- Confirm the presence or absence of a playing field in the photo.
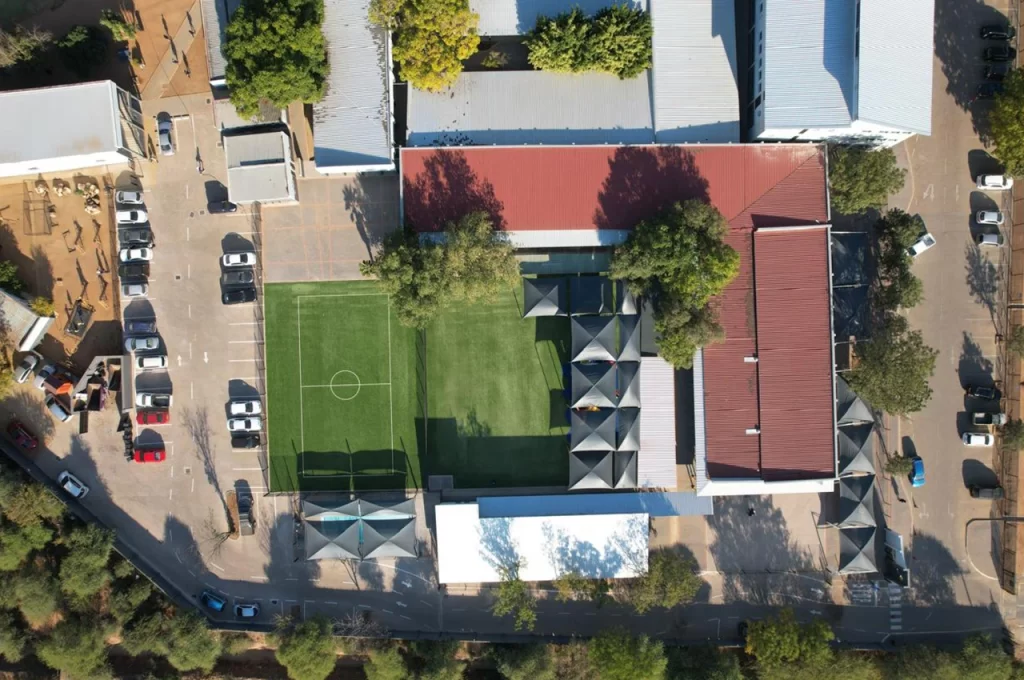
Yes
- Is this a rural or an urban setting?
urban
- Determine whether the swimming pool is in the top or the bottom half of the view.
bottom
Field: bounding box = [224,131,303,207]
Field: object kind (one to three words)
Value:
shed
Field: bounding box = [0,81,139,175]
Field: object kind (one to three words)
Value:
building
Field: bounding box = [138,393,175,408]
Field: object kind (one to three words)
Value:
vehicle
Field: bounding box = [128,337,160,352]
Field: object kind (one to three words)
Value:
car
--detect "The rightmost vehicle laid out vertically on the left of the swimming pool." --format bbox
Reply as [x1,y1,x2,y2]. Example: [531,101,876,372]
[237,495,254,532]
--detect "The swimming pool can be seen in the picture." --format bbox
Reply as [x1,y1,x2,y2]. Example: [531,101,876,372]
[300,491,427,560]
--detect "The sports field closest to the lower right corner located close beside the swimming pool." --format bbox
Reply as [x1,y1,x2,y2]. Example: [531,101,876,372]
[417,273,642,491]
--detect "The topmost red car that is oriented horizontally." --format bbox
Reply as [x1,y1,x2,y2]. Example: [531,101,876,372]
[137,410,171,425]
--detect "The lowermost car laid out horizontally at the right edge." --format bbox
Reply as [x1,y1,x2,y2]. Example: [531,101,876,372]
[967,485,1001,500]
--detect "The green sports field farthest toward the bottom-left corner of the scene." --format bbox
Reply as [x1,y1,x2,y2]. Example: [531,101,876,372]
[263,281,421,493]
